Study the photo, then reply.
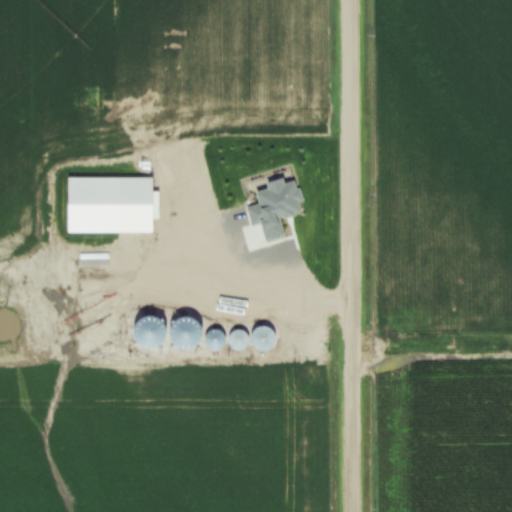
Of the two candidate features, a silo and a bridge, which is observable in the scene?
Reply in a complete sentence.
The one in the frame is a silo.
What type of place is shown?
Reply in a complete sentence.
What you see here is farmland.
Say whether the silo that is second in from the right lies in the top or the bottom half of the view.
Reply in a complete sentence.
The silo that is second in from the right is in the bottom half of the image.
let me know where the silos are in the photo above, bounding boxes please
[252,326,276,354]
[170,317,202,354]
[134,316,166,353]
[206,330,225,354]
[230,330,249,353]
